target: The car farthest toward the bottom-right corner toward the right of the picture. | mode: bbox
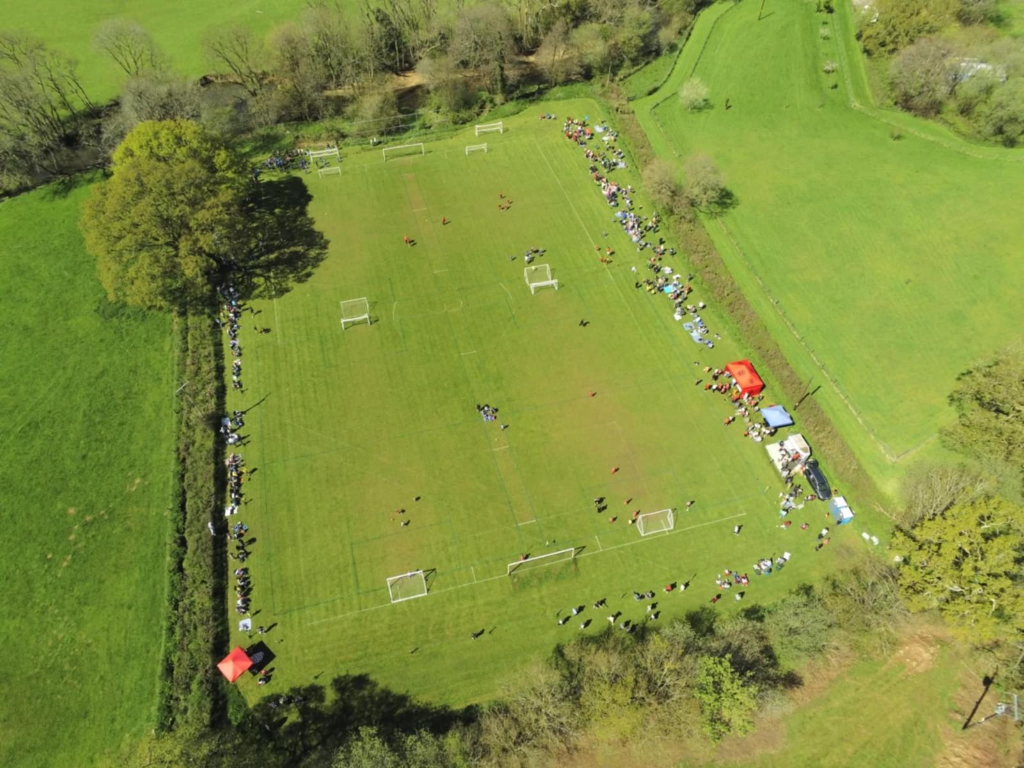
[802,456,834,501]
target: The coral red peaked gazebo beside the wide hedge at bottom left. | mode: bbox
[218,647,258,684]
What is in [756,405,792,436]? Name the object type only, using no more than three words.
gazebo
